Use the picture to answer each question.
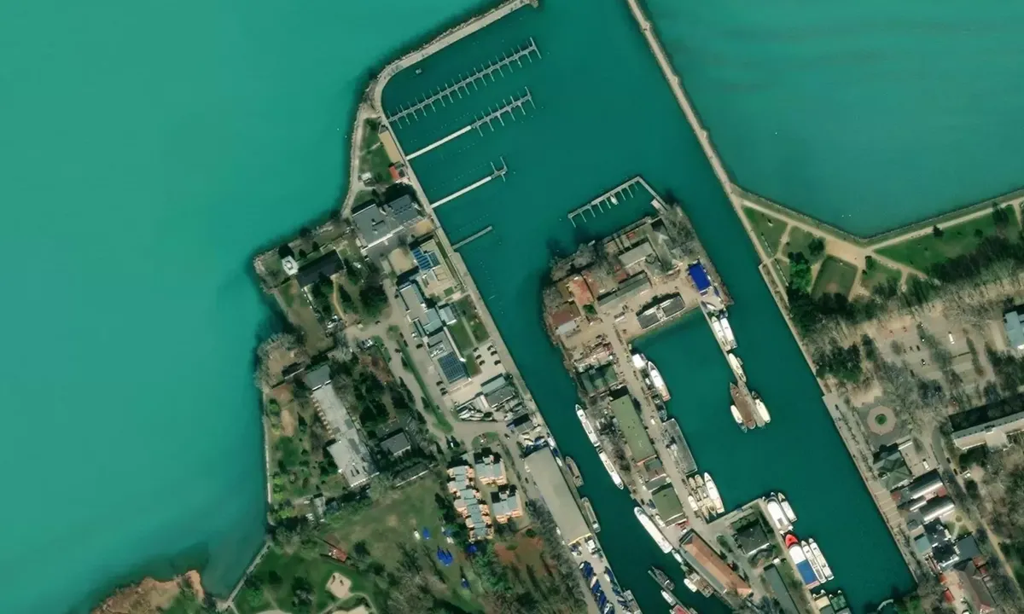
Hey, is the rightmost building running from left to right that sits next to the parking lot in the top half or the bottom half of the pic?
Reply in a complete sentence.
Seen from above, the rightmost building running from left to right that sits next to the parking lot lies in the bottom half of the view.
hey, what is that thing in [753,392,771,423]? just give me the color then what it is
white boat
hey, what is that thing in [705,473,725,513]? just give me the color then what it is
white ship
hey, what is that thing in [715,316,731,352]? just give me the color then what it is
white ship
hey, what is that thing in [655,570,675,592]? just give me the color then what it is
gray boat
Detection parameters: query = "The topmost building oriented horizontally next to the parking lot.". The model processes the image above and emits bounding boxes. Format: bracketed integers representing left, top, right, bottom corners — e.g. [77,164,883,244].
[952,412,1024,453]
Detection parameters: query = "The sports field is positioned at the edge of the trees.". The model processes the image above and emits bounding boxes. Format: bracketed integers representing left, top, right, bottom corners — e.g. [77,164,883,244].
[812,255,858,300]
